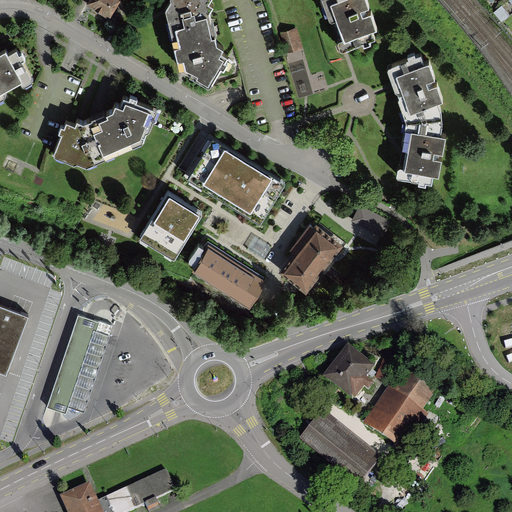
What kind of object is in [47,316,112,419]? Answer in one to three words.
building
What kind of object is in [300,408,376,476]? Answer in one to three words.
barn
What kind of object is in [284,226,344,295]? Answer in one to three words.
house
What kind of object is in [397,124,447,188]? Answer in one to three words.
building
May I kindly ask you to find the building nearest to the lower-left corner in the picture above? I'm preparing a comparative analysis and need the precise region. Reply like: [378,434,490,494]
[60,482,102,512]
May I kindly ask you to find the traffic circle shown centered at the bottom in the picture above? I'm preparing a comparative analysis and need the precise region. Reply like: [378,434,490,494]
[178,344,252,418]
